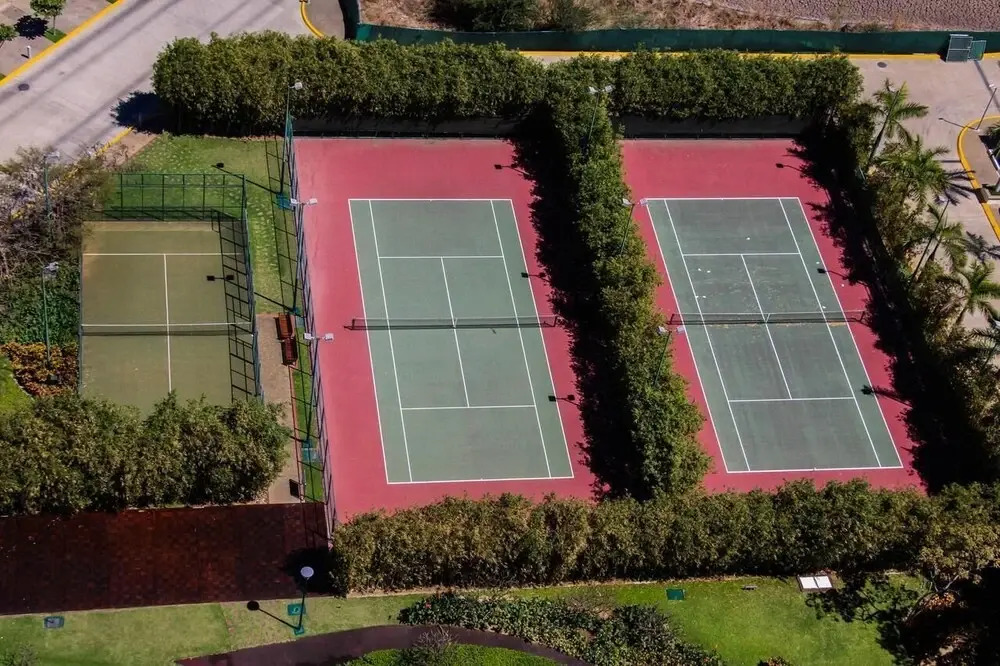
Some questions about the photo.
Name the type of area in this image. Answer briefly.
sports ground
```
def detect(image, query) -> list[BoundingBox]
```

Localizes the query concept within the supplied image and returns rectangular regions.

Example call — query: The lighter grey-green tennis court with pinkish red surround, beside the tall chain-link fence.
[293,138,635,549]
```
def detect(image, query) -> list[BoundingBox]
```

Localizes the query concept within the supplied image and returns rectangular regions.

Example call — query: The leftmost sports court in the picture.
[79,221,260,421]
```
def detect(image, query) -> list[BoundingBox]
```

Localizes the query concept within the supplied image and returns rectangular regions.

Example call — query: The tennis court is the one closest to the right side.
[613,138,949,514]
